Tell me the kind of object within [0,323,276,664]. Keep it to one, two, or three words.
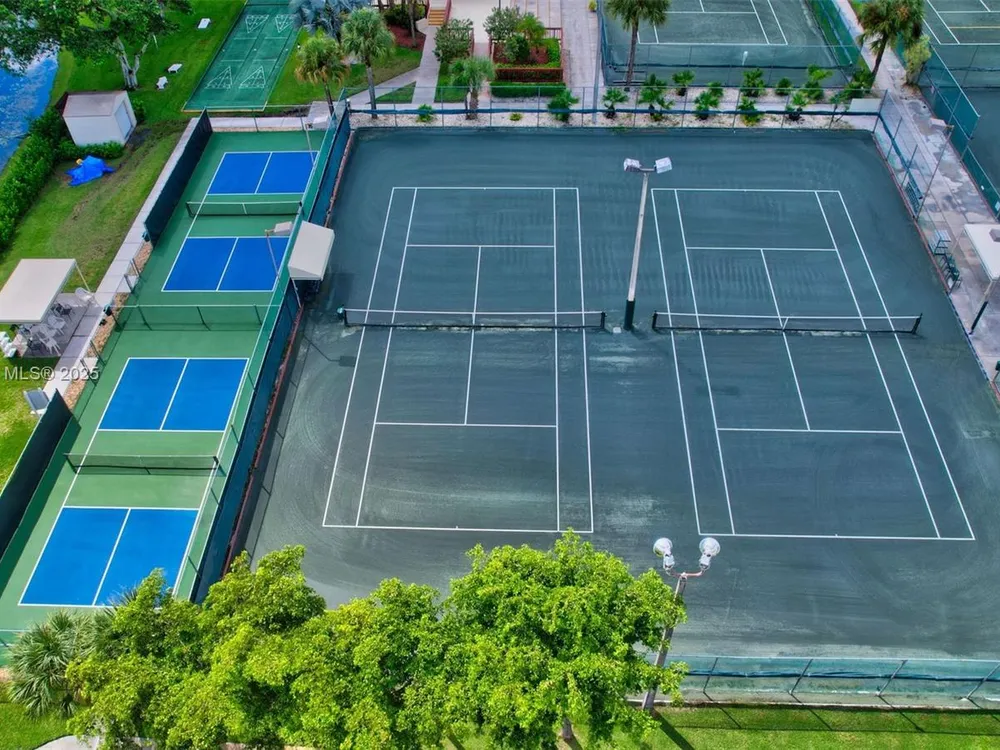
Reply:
sports court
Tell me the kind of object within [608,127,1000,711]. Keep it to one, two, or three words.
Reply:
tennis court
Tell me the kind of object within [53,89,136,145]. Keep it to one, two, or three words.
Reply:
shed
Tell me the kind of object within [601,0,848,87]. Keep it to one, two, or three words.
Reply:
tennis court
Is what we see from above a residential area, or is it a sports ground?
sports ground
